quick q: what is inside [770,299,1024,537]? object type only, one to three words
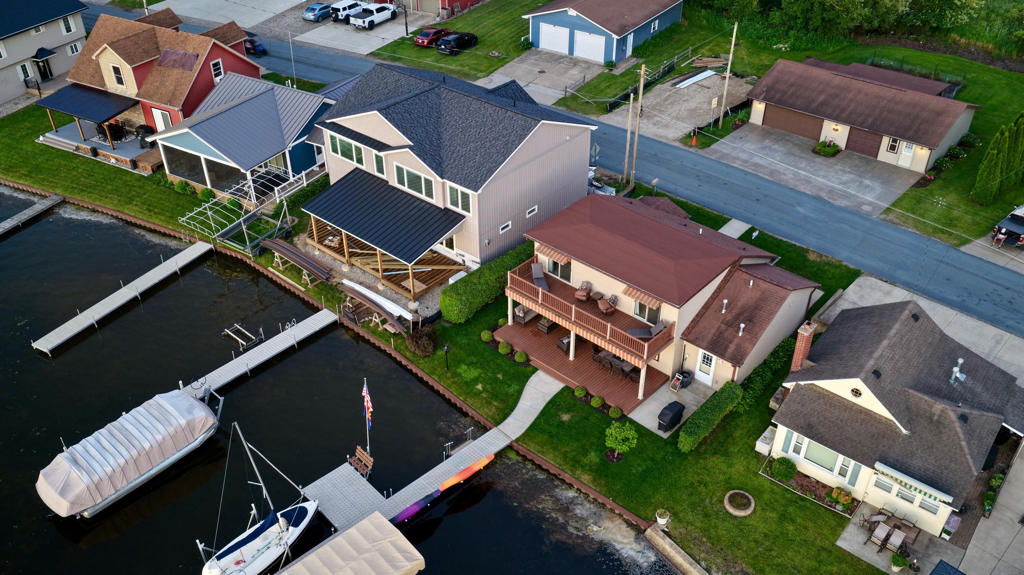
house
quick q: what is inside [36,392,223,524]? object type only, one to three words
boat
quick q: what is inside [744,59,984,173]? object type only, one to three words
building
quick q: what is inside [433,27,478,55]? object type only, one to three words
car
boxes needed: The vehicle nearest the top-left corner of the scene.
[252,30,271,57]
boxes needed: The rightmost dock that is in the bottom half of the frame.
[295,428,509,536]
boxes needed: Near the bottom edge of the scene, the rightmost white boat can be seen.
[196,422,320,575]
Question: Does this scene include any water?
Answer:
Yes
